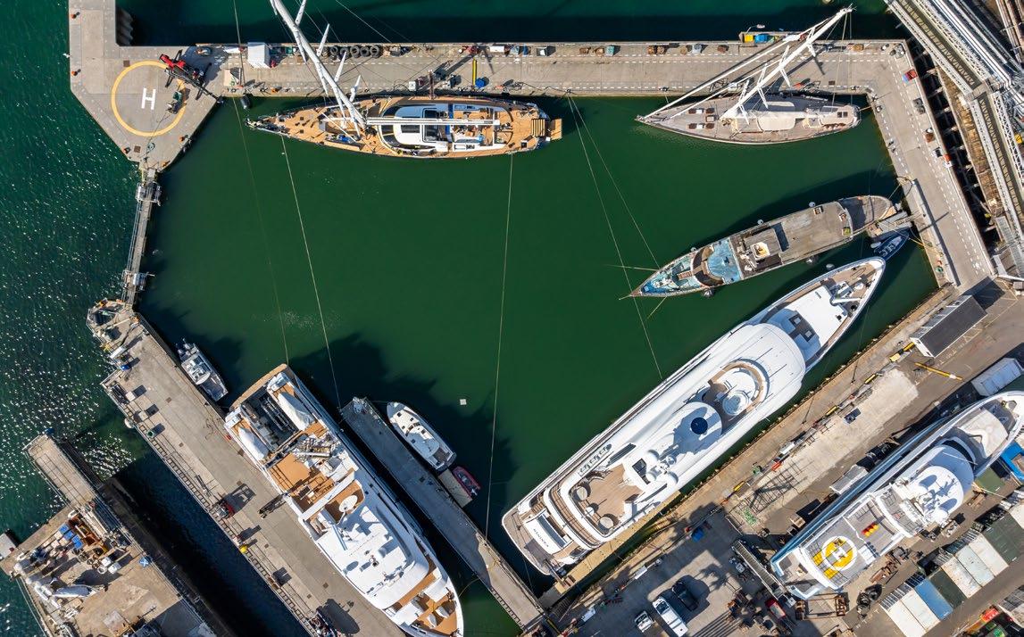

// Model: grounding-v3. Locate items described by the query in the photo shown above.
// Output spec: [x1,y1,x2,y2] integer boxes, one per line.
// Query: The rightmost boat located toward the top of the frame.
[874,229,909,260]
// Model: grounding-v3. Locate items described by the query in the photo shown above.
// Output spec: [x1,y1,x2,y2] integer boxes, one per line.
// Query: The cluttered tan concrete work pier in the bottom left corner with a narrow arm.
[0,432,233,637]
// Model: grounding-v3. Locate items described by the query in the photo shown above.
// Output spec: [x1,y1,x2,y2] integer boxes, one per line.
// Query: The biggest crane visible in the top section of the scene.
[157,48,223,103]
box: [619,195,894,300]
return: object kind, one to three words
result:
boat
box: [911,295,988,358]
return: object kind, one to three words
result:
building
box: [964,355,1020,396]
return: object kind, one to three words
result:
shipping container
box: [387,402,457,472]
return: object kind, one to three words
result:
boat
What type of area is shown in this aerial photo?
port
